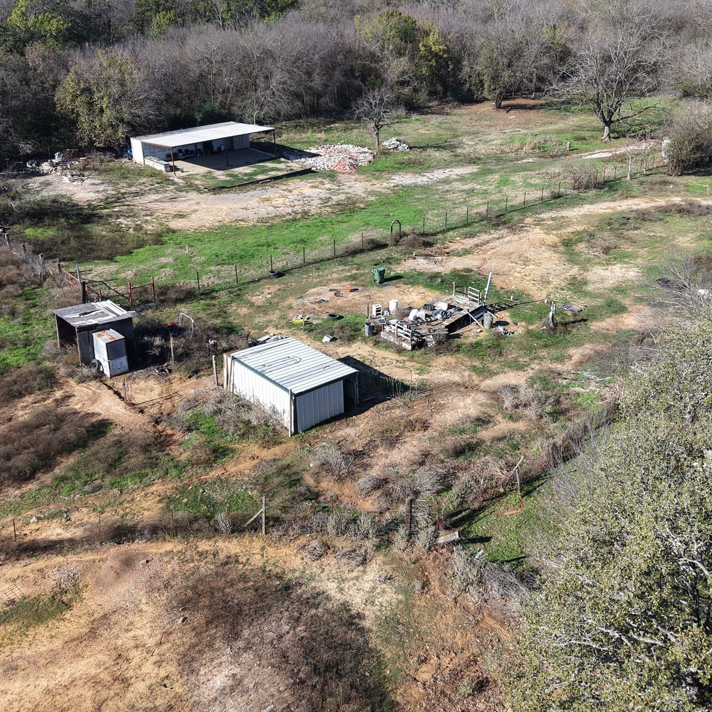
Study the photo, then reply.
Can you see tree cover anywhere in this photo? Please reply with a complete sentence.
Yes, tree cover can be seen from above here.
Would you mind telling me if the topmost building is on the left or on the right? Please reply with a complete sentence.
The topmost building appears in the left half of the scene.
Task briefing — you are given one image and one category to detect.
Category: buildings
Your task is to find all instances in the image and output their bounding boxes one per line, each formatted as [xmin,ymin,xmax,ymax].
[209,331,362,443]
[134,117,278,177]
[45,296,137,368]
